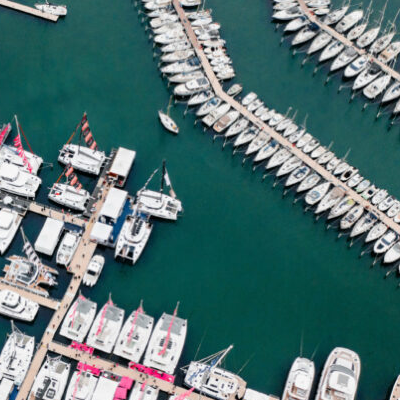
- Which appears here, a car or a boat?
boat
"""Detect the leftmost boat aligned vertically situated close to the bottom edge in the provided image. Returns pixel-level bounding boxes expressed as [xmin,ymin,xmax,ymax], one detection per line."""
[0,319,34,386]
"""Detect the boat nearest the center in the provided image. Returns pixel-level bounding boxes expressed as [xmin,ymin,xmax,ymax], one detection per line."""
[135,161,180,221]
